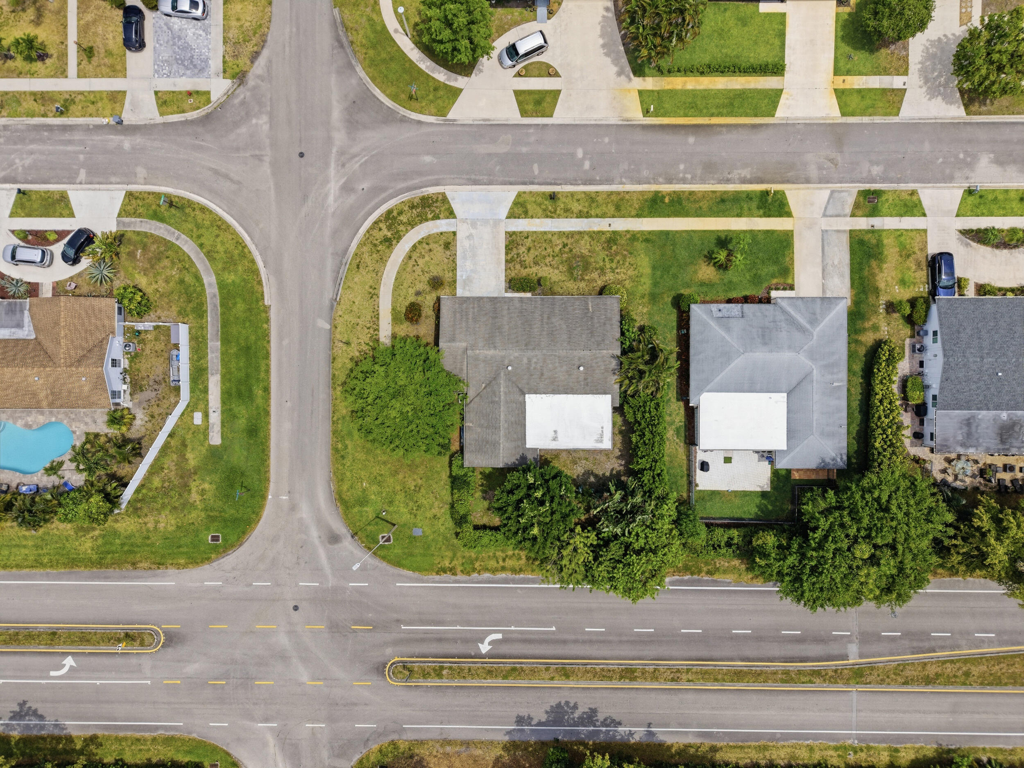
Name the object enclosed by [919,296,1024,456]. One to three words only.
house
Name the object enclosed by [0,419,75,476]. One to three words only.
swimming pool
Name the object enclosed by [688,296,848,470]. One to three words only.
house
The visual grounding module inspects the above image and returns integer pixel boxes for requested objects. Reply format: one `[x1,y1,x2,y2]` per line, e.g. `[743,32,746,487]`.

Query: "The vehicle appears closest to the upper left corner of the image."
[118,3,148,53]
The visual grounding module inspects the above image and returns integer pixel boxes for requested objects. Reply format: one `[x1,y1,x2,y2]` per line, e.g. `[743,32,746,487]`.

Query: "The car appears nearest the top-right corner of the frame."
[931,252,962,301]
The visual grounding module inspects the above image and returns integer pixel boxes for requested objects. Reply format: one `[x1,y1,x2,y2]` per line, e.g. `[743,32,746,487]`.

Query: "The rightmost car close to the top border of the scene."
[496,26,551,70]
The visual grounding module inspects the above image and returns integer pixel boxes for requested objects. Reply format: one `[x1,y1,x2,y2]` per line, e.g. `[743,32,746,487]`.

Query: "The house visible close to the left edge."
[0,295,134,412]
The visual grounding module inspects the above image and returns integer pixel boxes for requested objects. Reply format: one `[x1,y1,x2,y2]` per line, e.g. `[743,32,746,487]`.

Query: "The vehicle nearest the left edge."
[1,242,54,268]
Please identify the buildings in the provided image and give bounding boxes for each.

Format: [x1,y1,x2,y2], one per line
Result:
[439,295,623,469]
[0,295,134,412]
[688,296,848,470]
[919,296,1024,456]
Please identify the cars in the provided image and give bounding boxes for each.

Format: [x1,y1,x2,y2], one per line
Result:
[931,252,962,301]
[60,224,94,267]
[1,242,54,268]
[156,0,209,20]
[118,3,148,53]
[496,26,551,70]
